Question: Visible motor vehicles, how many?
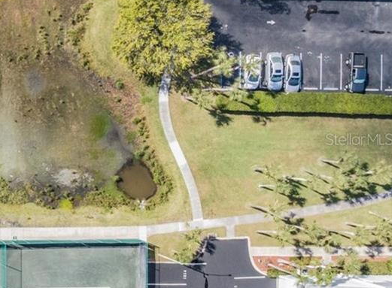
4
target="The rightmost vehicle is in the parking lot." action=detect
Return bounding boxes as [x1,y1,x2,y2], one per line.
[347,52,368,93]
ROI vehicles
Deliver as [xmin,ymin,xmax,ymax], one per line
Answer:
[347,52,368,93]
[242,62,263,91]
[283,54,304,92]
[265,53,285,89]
